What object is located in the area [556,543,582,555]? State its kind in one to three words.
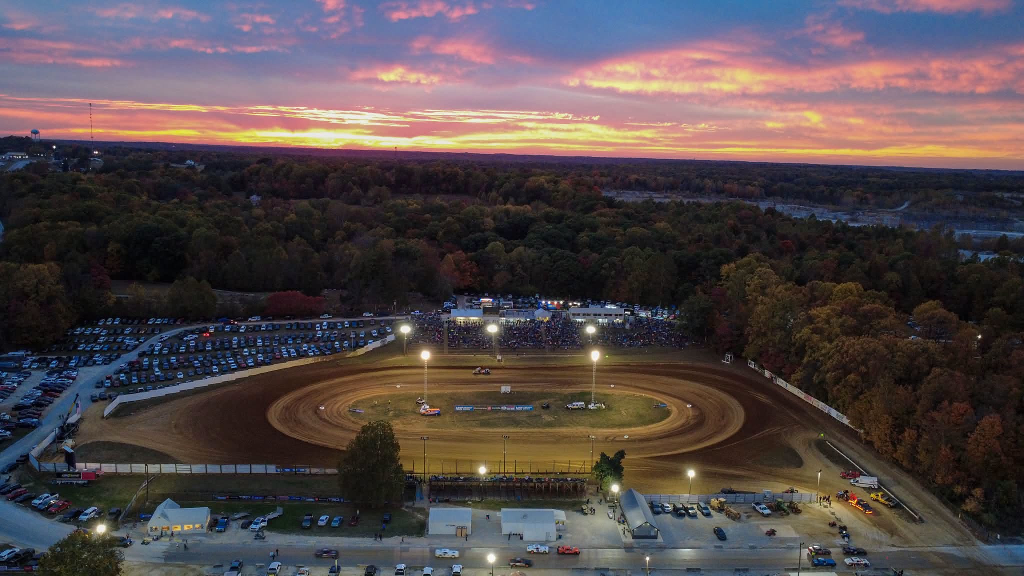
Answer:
vehicle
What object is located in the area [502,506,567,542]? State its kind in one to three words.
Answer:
shed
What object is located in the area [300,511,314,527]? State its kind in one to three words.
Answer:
vehicle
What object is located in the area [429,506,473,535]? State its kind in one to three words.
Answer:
shed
